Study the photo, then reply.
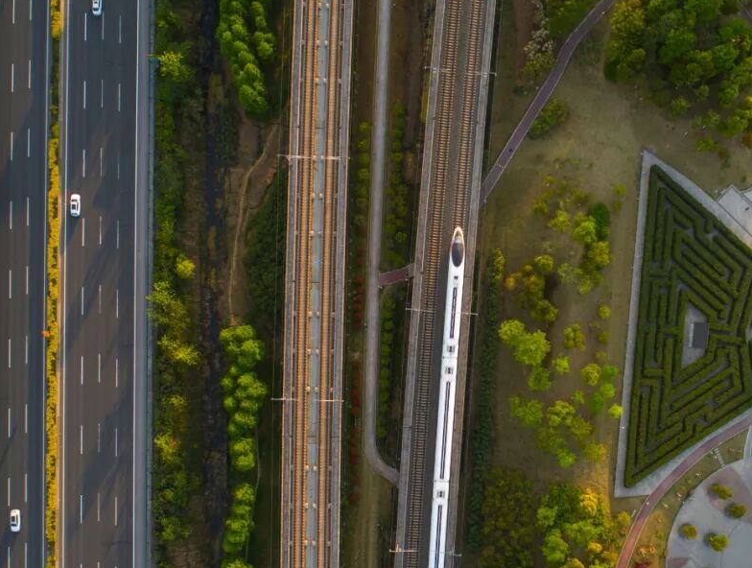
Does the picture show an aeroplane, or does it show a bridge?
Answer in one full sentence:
Visible in the photo is a bridge.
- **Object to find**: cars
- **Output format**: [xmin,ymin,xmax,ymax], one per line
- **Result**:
[91,0,102,15]
[9,509,21,532]
[69,195,81,217]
